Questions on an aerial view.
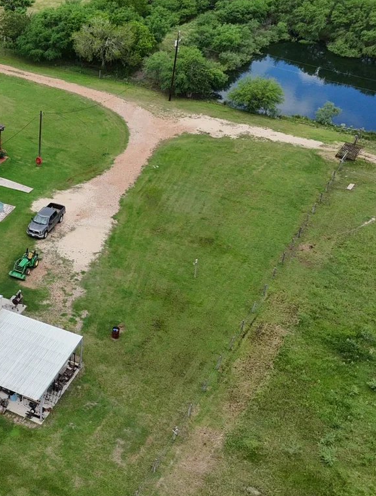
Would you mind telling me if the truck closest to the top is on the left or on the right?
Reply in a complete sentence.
You can find the truck closest to the top on the left side of the picture.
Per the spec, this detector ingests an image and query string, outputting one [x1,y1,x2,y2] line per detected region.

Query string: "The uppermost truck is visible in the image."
[25,204,67,238]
